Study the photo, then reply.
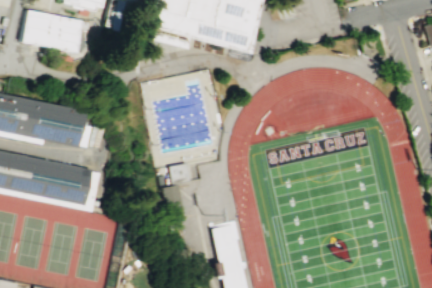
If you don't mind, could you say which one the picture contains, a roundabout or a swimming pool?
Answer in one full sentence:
I can see a swimming pool in this picture.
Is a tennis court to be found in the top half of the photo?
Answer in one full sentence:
No, no tennis court appears in the top half of the photo.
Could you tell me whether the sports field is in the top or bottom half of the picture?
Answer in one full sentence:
The sports field is in the bottom half of the image.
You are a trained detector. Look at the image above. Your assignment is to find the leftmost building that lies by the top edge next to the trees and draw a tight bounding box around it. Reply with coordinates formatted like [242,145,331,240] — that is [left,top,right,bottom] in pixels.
[20,10,84,53]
